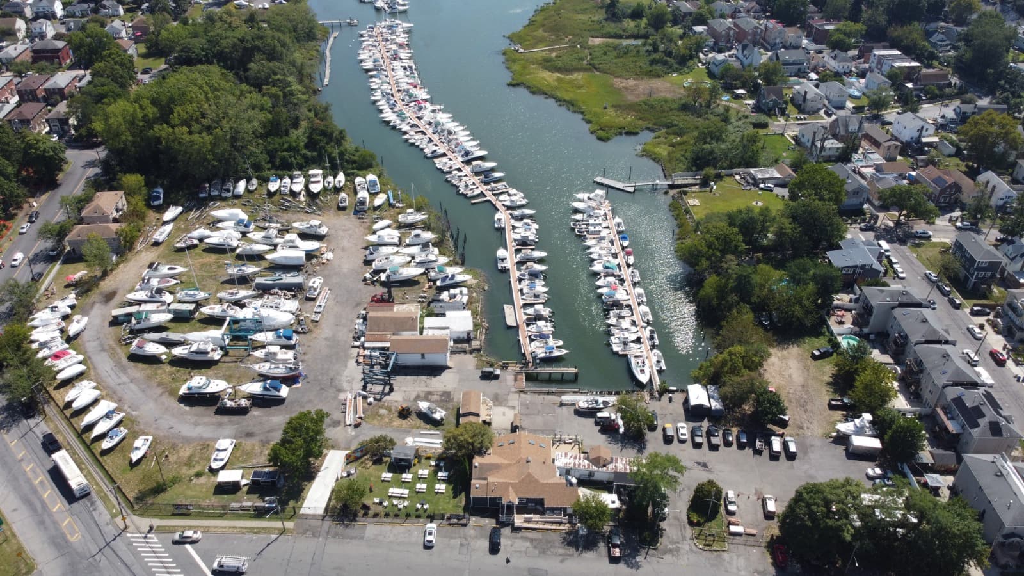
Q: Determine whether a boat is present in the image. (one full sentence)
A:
Yes, a boat can be made out from above.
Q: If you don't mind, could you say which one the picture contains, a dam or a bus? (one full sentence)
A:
The one in the frame is a bus.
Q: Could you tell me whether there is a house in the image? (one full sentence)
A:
Yes, the picture does show a house.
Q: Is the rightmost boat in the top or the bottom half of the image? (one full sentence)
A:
The rightmost boat is in the bottom half of the image.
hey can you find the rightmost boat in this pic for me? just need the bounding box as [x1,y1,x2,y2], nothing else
[837,413,874,438]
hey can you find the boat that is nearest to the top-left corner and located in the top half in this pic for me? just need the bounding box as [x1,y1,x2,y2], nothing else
[150,186,164,208]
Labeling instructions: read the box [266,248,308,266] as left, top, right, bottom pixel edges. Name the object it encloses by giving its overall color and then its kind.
white boat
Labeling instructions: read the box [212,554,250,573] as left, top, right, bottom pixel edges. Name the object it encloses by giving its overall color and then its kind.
white vehicle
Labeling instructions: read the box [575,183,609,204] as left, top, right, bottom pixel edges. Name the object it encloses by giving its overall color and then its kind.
white boat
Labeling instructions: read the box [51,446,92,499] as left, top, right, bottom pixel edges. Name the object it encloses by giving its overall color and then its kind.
white bus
